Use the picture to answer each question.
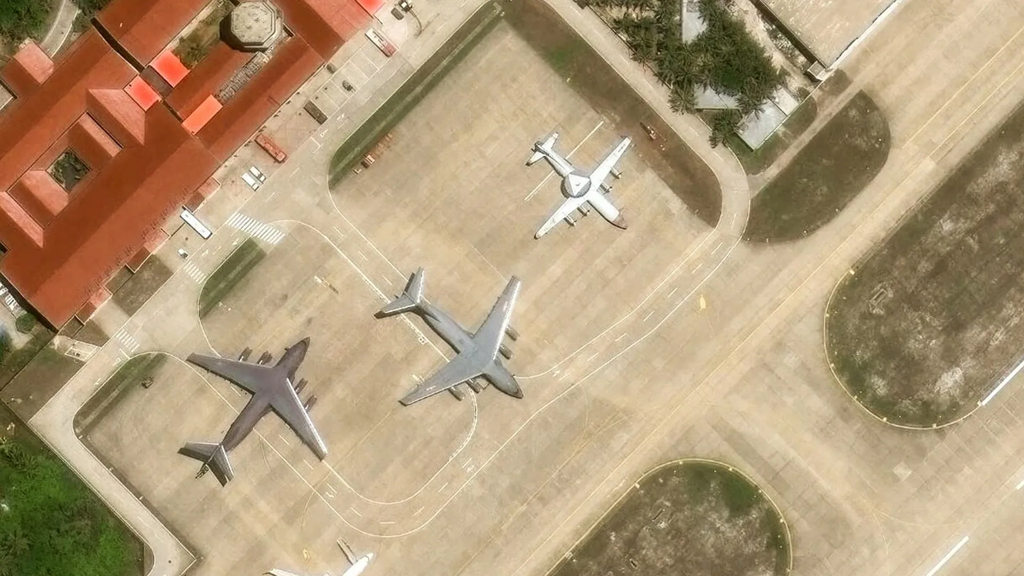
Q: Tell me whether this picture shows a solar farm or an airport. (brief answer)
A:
airport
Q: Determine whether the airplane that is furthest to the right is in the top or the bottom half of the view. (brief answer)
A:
top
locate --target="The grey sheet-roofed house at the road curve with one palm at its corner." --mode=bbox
[735,101,787,149]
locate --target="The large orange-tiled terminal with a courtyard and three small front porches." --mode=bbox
[0,26,224,329]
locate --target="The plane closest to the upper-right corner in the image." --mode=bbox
[525,131,630,237]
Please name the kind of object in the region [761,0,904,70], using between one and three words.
hangar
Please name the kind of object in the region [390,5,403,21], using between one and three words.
vehicle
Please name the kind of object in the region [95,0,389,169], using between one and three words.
building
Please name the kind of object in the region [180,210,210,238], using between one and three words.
bus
